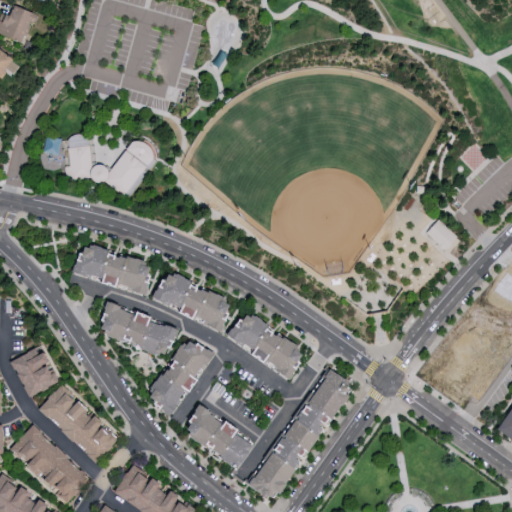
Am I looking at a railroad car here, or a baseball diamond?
baseball diamond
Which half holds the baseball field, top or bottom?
top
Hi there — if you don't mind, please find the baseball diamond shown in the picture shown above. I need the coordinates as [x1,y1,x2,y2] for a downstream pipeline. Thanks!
[182,66,442,276]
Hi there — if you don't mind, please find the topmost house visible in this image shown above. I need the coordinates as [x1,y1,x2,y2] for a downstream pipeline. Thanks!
[0,4,38,46]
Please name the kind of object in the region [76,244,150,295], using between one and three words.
house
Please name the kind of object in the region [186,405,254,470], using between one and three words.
house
